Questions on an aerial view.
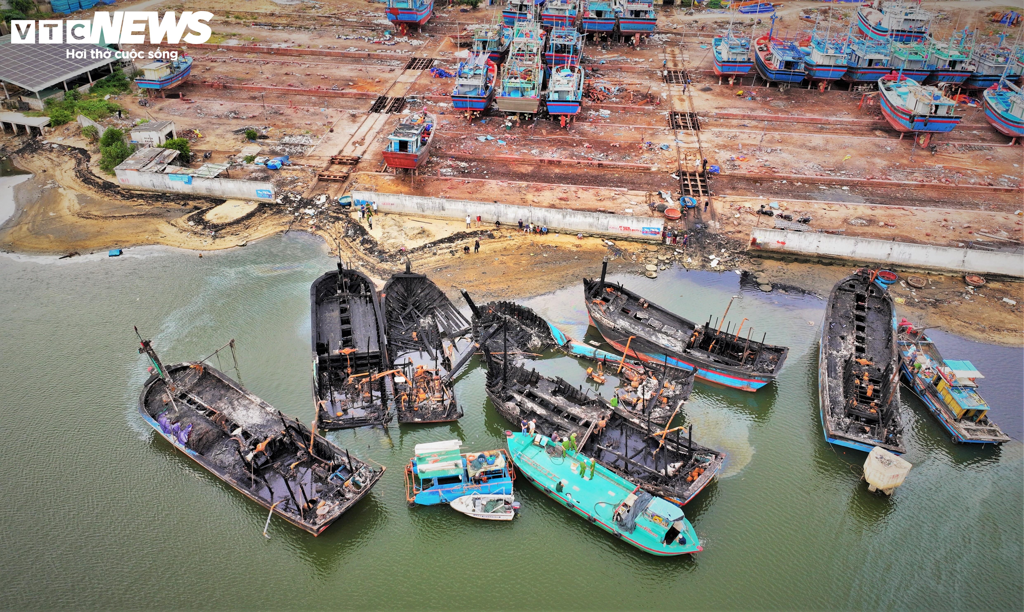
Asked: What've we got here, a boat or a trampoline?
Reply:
boat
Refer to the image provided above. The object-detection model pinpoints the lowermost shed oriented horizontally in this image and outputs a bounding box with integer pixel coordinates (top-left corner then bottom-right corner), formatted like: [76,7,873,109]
[115,144,267,180]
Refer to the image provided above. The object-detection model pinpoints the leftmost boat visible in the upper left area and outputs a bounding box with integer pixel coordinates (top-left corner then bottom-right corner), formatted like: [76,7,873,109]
[138,51,208,98]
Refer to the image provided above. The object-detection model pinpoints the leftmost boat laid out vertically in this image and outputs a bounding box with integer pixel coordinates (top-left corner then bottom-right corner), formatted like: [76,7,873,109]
[309,227,399,439]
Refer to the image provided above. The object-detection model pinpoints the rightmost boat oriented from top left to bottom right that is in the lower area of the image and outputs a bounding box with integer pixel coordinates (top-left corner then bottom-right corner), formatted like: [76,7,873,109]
[903,315,1013,450]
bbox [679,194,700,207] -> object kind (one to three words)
boat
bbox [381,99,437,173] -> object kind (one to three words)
boat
